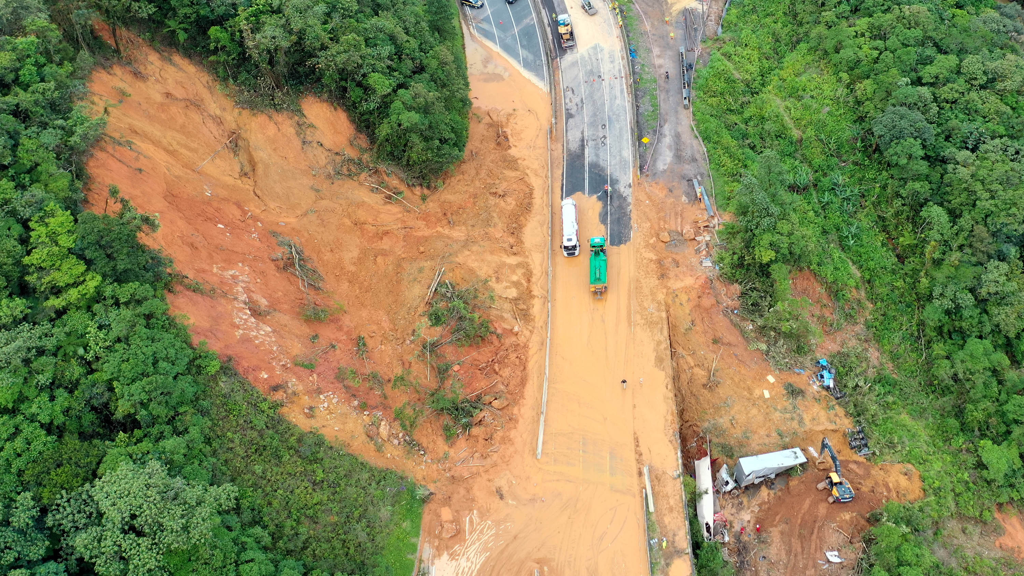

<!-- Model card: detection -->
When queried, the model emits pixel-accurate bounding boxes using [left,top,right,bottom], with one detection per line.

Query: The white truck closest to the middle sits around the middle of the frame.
[561,199,582,255]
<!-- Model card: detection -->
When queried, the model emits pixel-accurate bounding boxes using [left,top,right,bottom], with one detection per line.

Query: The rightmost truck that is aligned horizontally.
[715,447,806,489]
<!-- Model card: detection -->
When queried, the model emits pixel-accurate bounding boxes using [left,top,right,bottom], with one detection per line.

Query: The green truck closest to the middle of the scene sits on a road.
[587,236,612,304]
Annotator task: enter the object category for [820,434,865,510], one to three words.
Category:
work vehicle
